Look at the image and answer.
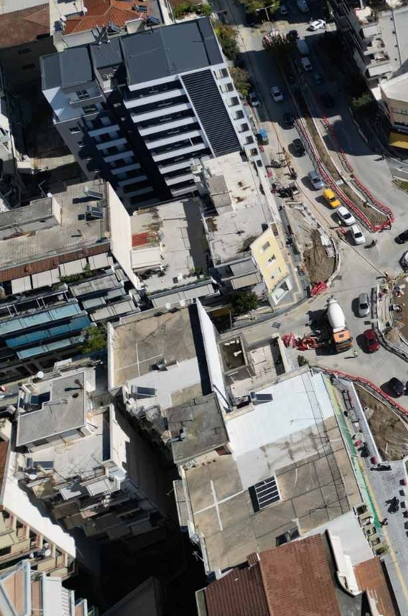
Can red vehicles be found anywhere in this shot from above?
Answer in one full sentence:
Yes, the frame does contain a red vehicle.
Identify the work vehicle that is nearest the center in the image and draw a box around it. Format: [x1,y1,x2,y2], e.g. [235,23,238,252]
[298,333,321,349]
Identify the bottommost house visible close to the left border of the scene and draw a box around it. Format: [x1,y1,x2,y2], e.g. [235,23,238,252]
[0,563,105,616]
